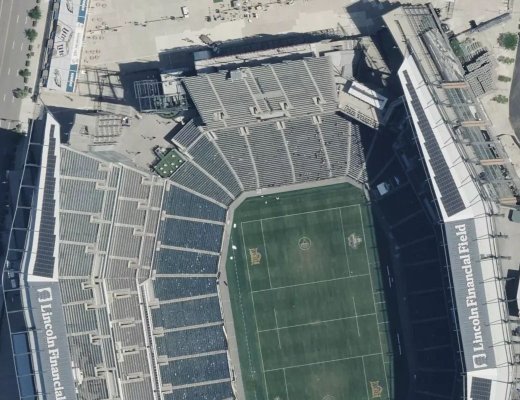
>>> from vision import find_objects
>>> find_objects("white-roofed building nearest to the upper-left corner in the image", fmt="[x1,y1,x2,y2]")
[42,0,99,92]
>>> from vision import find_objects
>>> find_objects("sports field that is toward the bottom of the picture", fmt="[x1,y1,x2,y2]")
[226,182,418,400]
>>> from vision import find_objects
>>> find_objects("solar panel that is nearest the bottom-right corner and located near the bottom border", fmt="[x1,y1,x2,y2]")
[469,377,493,400]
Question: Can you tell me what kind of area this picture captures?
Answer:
sports ground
